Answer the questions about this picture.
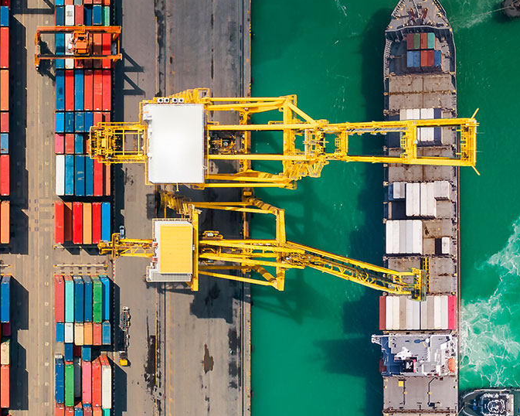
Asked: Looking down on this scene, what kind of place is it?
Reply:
port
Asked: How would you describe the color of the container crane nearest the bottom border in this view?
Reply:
yellow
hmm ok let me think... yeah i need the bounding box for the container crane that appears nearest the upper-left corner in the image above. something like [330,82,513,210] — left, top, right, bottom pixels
[32,25,123,70]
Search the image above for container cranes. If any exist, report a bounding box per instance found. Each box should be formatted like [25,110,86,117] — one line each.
[87,84,480,192]
[32,25,123,70]
[98,186,422,309]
